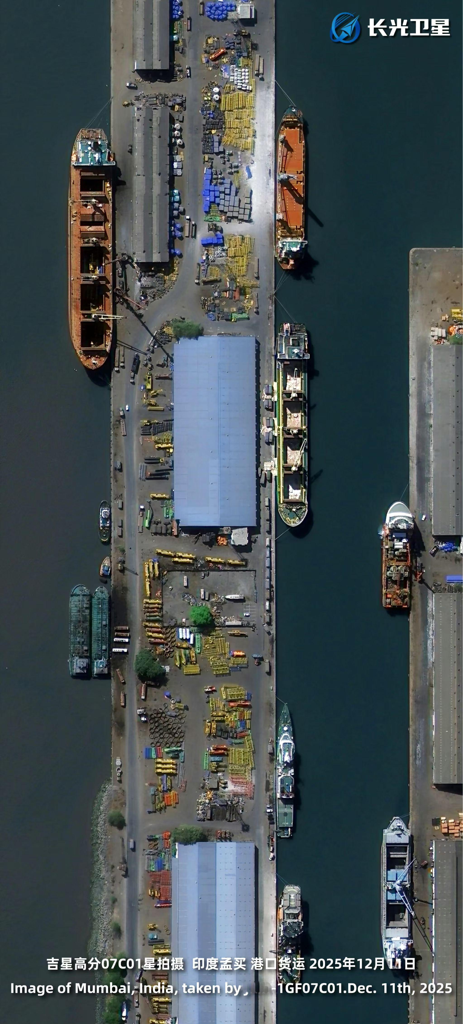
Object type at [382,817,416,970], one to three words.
ship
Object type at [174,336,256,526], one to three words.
building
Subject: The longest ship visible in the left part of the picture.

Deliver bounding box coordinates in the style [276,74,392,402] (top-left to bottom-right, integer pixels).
[68,129,127,369]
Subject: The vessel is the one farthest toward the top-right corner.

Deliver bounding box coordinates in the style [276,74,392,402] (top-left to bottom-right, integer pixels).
[276,105,308,270]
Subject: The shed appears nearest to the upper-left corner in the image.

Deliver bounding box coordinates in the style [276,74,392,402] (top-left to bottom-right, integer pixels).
[135,0,169,70]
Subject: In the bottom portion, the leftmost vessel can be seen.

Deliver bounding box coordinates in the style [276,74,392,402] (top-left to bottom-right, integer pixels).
[69,584,90,677]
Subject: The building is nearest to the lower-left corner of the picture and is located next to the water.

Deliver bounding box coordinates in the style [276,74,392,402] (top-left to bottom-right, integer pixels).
[172,842,254,1024]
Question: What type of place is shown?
port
